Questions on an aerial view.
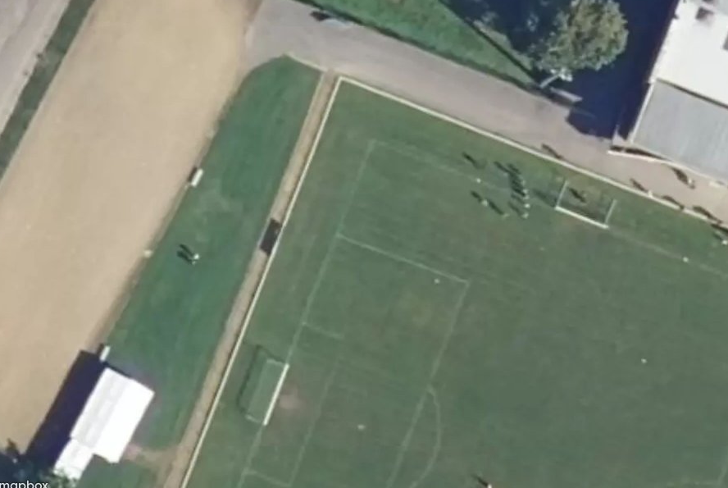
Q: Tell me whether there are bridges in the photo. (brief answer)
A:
No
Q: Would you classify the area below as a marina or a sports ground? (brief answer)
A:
sports ground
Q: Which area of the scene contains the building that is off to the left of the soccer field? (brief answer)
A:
bottom left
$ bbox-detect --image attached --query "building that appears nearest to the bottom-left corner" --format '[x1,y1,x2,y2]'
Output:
[55,368,154,478]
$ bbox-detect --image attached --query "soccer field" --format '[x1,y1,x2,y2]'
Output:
[185,82,728,488]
